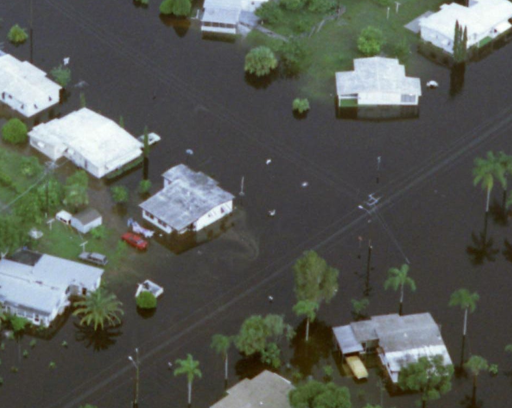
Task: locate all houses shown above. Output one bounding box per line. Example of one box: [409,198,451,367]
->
[421,0,512,57]
[201,0,266,37]
[330,310,457,399]
[139,159,235,241]
[335,55,421,109]
[0,55,62,121]
[210,366,304,408]
[0,246,103,329]
[29,107,141,180]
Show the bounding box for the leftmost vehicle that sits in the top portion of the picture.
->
[133,130,167,149]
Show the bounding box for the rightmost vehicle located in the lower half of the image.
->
[342,351,369,383]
